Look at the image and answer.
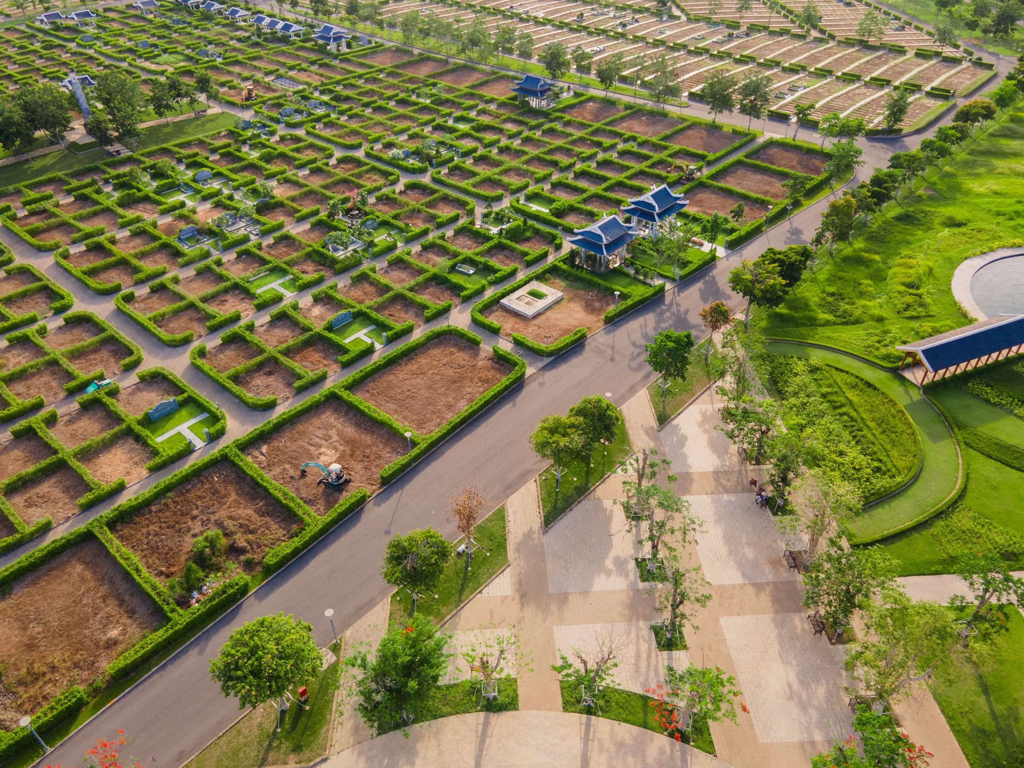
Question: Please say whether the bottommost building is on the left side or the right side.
right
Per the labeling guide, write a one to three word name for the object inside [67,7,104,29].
building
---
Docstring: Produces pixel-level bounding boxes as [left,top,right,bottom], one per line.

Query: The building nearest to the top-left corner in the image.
[33,8,71,31]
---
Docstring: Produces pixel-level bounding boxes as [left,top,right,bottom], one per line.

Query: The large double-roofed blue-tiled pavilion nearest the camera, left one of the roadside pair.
[562,208,644,276]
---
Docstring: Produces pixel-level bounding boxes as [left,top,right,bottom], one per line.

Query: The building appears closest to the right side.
[891,306,1024,386]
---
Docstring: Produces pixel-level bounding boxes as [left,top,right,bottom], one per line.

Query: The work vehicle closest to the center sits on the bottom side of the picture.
[300,451,348,493]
